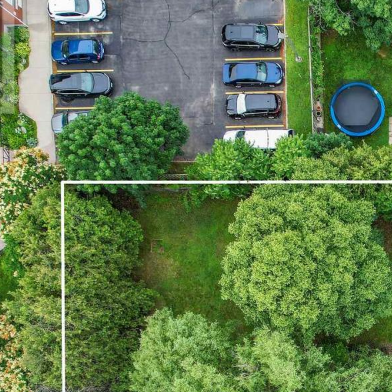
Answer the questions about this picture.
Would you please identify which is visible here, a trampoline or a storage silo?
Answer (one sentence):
I can see a trampoline in this picture.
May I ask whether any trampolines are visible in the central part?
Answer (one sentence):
No, no trampoline is visible in the central part.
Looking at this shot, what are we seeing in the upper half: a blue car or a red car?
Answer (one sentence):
The one visible in the upper half is a blue car.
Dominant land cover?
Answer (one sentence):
For the most part, this view shows trees.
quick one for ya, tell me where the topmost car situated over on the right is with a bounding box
[221,21,284,54]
